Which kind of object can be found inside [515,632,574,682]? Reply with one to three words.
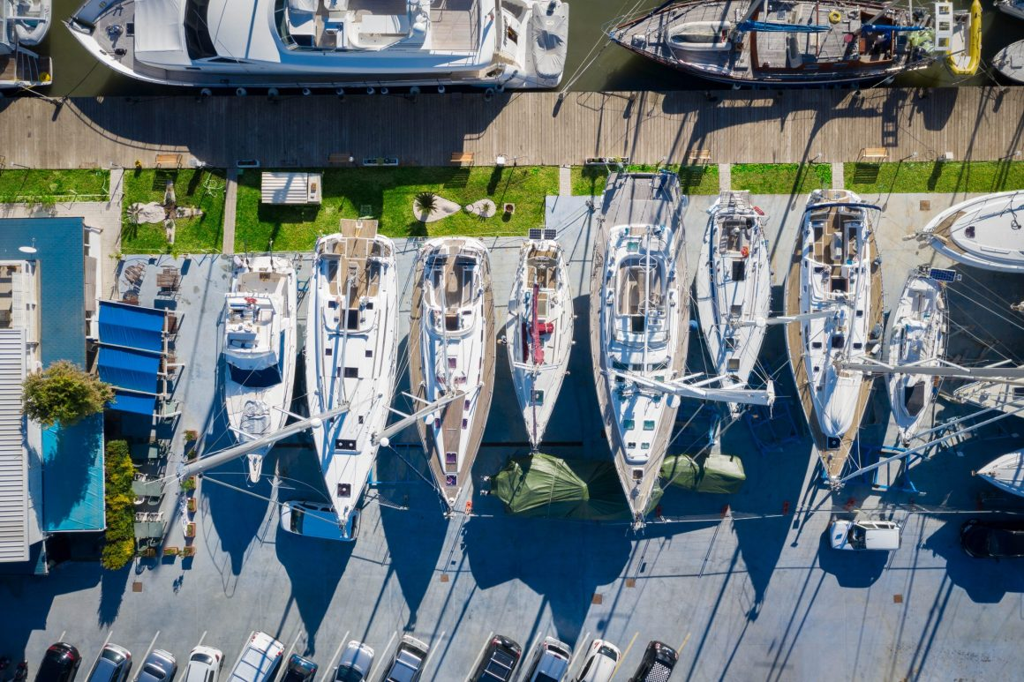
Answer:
car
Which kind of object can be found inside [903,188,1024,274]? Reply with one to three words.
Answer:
boat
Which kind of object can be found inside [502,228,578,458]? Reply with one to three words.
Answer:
boat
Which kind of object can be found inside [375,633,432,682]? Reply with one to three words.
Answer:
car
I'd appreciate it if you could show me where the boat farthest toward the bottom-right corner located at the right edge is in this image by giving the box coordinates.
[969,447,1024,496]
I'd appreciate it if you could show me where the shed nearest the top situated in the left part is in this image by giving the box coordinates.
[262,173,329,210]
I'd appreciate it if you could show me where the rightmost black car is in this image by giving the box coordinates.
[953,516,1024,561]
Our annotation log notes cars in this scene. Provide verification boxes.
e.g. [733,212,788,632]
[174,642,227,682]
[953,516,1024,561]
[624,639,679,682]
[134,647,184,682]
[824,517,906,558]
[325,638,378,682]
[277,651,322,682]
[465,632,524,682]
[515,632,574,682]
[566,636,622,682]
[26,638,83,682]
[83,639,138,682]
[227,630,290,682]
[375,633,432,682]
